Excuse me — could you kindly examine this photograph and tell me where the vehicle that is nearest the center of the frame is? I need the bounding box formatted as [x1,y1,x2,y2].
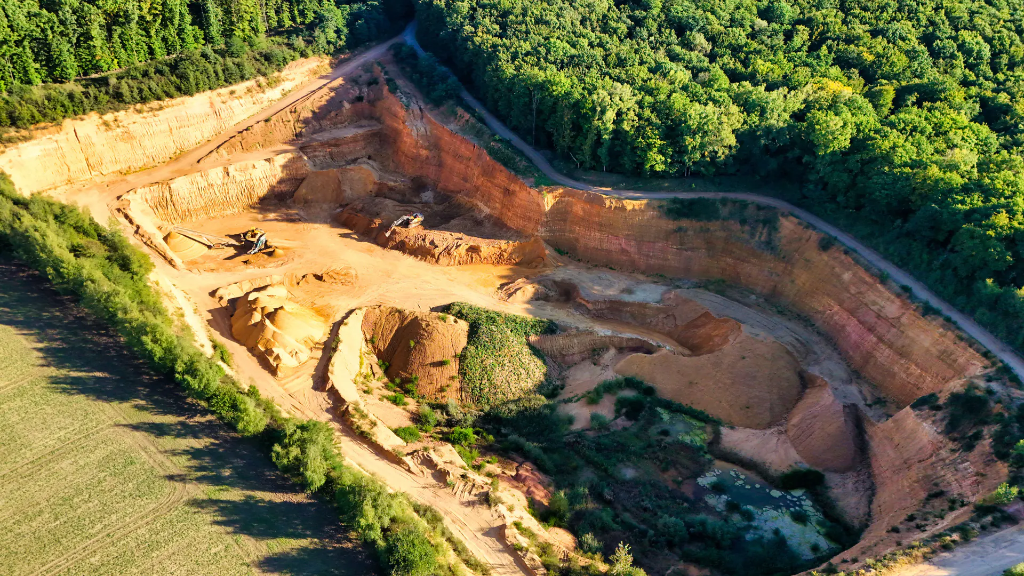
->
[386,211,421,230]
